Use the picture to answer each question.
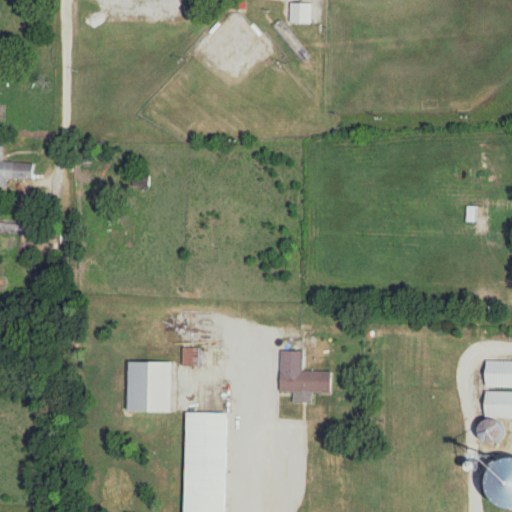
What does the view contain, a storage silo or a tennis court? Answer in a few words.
storage silo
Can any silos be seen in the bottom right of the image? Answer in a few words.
Yes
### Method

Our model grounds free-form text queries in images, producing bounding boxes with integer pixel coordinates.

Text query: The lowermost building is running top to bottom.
[186,412,228,512]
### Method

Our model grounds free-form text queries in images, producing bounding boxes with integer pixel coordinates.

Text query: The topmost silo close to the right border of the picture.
[476,418,505,444]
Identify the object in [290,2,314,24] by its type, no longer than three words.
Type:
shed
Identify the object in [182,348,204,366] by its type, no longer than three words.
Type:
shed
